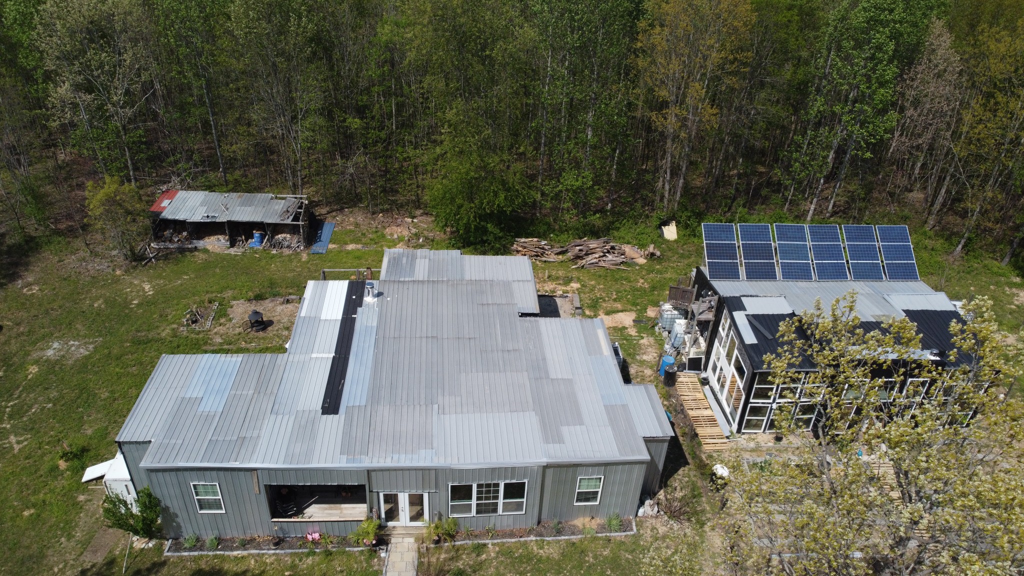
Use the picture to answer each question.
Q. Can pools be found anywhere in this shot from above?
No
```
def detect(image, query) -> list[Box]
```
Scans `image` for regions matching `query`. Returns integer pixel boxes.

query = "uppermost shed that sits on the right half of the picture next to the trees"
[663,215,680,241]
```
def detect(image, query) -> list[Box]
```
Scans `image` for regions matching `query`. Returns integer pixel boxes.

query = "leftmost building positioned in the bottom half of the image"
[113,248,677,539]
